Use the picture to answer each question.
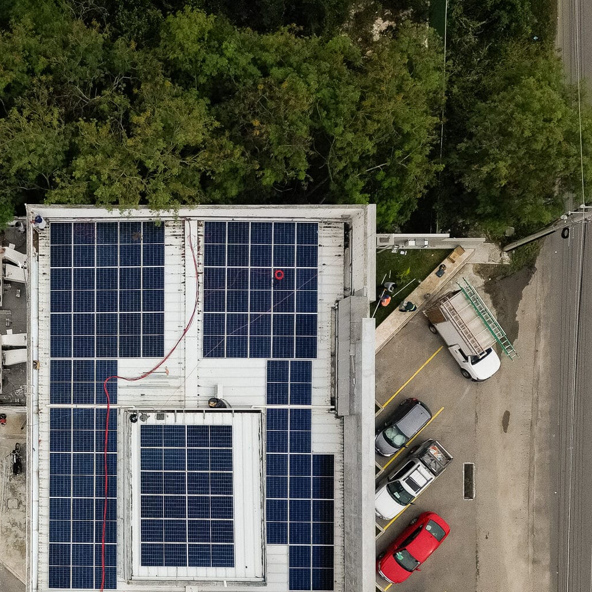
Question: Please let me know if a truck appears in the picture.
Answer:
Yes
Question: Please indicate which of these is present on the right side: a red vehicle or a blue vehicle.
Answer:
red vehicle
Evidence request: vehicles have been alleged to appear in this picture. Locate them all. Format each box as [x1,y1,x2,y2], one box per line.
[6,442,22,475]
[427,291,498,376]
[380,512,448,583]
[375,396,434,461]
[375,438,460,518]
